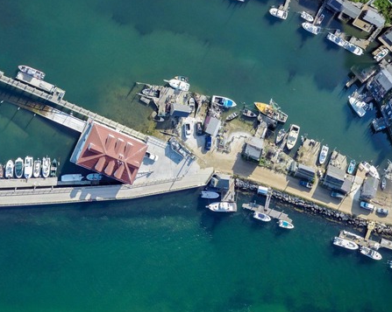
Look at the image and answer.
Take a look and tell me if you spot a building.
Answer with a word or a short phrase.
Yes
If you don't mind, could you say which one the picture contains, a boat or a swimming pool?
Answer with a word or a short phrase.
boat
